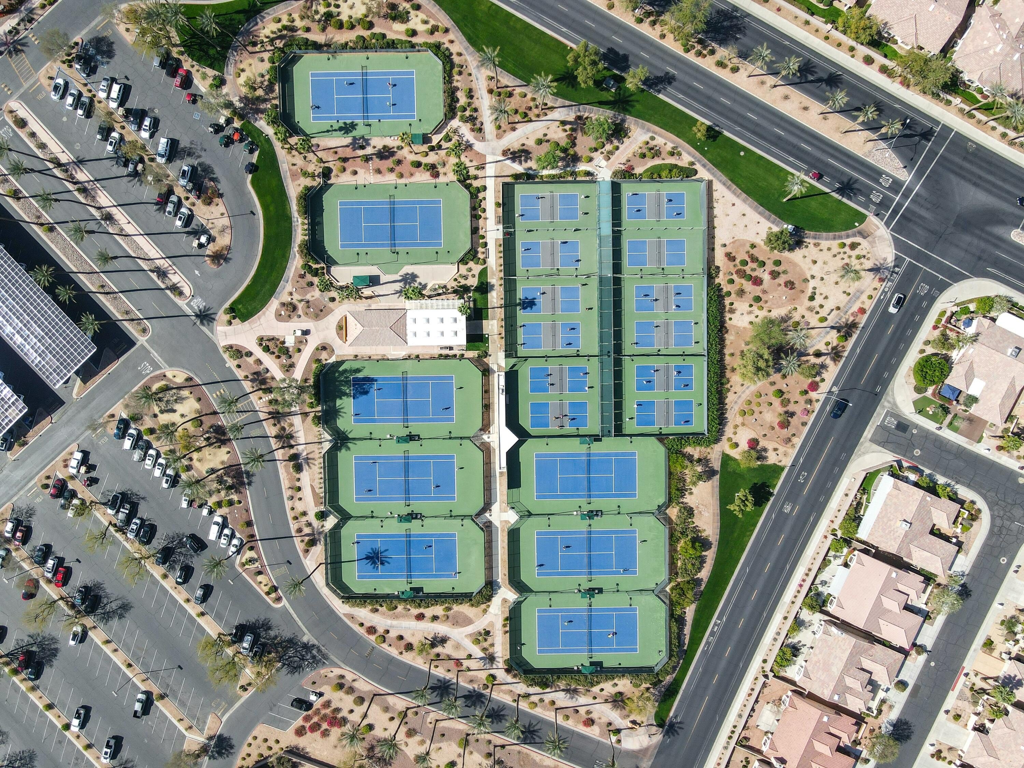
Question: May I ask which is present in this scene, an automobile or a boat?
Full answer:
I can see an automobile in this picture.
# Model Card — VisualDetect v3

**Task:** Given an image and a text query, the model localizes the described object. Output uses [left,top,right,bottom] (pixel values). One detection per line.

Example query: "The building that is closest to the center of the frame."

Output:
[498,372,519,470]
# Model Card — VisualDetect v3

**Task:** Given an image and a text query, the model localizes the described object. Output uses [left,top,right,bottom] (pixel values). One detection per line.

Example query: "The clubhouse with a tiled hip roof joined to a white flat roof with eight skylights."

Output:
[347,309,466,347]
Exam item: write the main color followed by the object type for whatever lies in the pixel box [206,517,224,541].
white vehicle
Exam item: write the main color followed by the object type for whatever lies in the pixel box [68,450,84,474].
white vehicle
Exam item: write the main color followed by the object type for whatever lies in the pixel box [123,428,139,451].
white car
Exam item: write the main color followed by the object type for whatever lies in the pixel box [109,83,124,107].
white car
